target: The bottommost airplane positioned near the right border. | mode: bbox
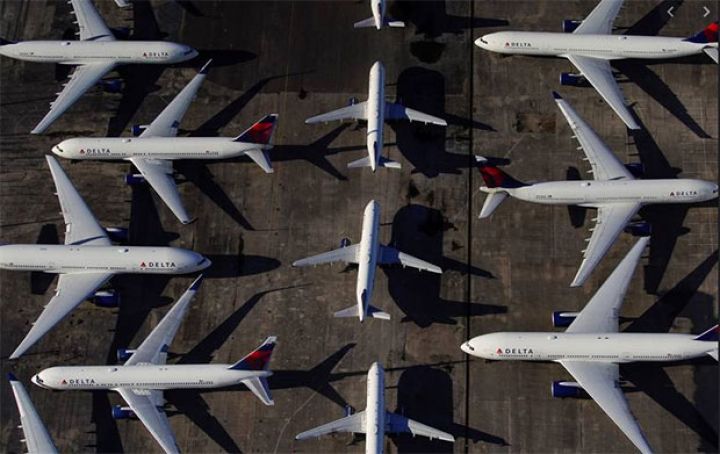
[458,235,720,454]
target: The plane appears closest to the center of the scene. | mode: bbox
[293,202,439,322]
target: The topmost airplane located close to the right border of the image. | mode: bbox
[475,0,720,129]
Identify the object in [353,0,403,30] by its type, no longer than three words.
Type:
airplane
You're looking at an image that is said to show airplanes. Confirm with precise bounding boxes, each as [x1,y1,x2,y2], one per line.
[34,273,278,454]
[293,202,439,322]
[475,0,720,129]
[458,235,720,454]
[297,364,451,454]
[0,153,211,356]
[473,88,720,285]
[353,0,403,30]
[0,0,197,133]
[0,373,55,454]
[50,58,278,219]
[306,63,446,172]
